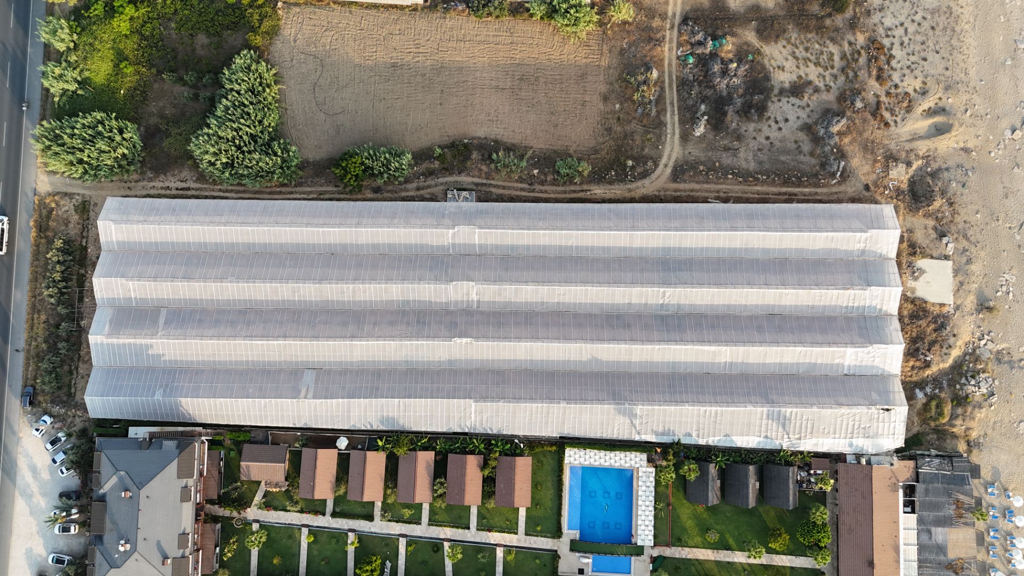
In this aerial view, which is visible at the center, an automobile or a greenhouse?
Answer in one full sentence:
It is a greenhouse that can be seen at the center.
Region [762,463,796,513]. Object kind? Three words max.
shed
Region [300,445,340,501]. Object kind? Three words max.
house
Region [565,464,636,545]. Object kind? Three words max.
swimming pool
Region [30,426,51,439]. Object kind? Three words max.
vehicle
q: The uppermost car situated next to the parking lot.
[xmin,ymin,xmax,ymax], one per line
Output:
[21,385,36,409]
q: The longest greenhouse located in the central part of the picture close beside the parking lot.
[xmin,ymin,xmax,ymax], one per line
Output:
[84,197,908,454]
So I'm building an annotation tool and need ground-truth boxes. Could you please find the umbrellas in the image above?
[336,437,348,449]
[1010,495,1023,506]
[1013,515,1024,526]
[1009,558,1024,570]
[1010,536,1024,548]
[1007,548,1021,558]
